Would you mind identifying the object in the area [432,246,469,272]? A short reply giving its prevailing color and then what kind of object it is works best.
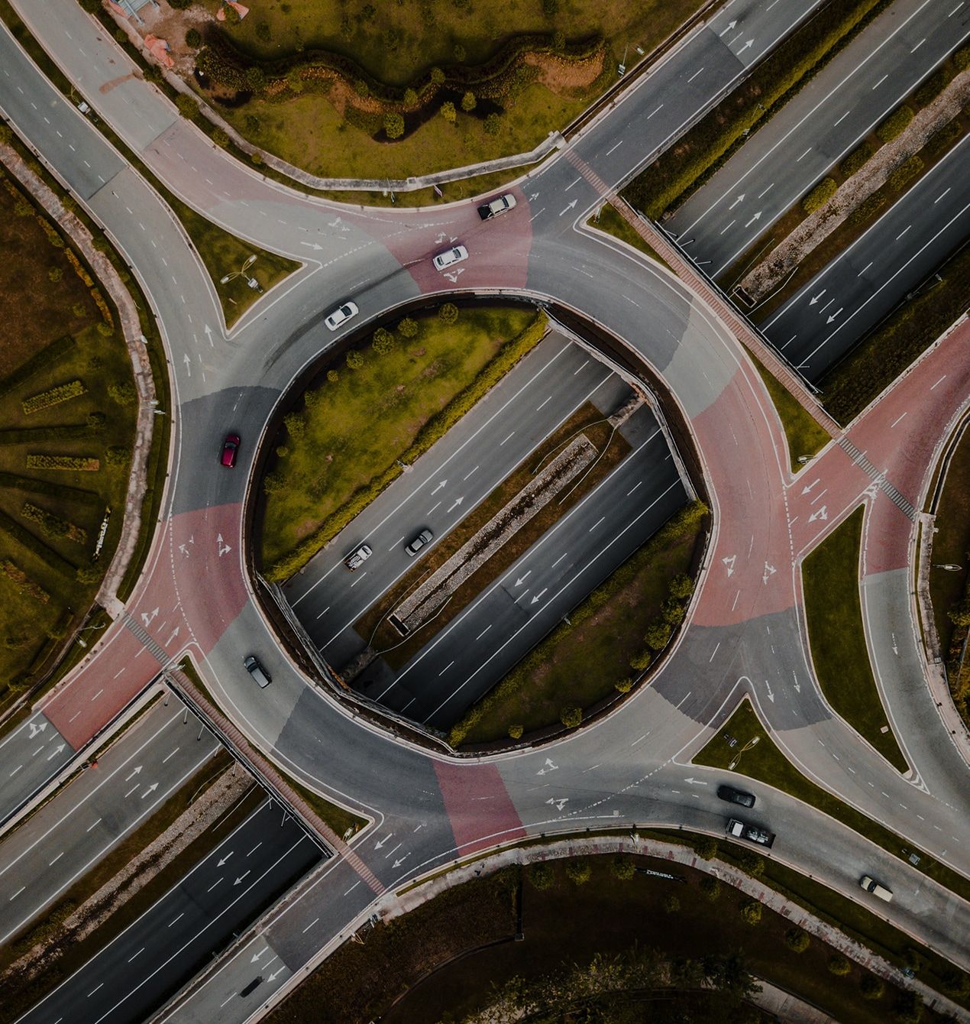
white car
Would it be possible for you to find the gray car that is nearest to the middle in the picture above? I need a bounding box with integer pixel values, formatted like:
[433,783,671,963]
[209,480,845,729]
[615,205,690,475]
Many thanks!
[404,528,435,558]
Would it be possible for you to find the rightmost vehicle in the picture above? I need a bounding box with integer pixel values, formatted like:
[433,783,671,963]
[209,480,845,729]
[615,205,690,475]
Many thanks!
[858,875,897,904]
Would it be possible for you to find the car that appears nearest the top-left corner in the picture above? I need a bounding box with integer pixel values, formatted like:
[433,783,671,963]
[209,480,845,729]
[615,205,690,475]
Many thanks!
[323,302,360,330]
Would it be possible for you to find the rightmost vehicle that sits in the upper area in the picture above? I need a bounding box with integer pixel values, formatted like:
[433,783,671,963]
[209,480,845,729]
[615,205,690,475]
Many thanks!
[478,194,518,222]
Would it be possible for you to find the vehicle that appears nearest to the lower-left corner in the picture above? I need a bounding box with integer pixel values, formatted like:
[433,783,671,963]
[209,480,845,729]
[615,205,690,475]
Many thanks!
[244,655,272,690]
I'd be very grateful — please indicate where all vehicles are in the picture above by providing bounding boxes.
[220,435,240,467]
[244,655,272,690]
[343,544,373,572]
[432,246,469,272]
[323,302,360,330]
[725,819,774,849]
[478,194,518,222]
[716,785,757,808]
[858,875,897,904]
[404,528,435,558]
